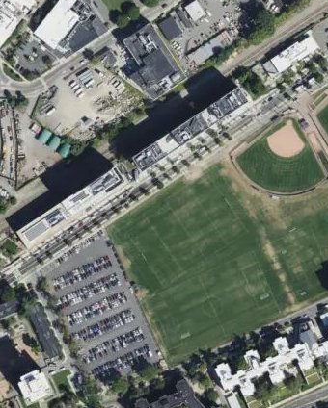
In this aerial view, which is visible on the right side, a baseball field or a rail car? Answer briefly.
baseball field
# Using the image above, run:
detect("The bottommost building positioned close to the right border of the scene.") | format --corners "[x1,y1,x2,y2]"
[215,331,328,397]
